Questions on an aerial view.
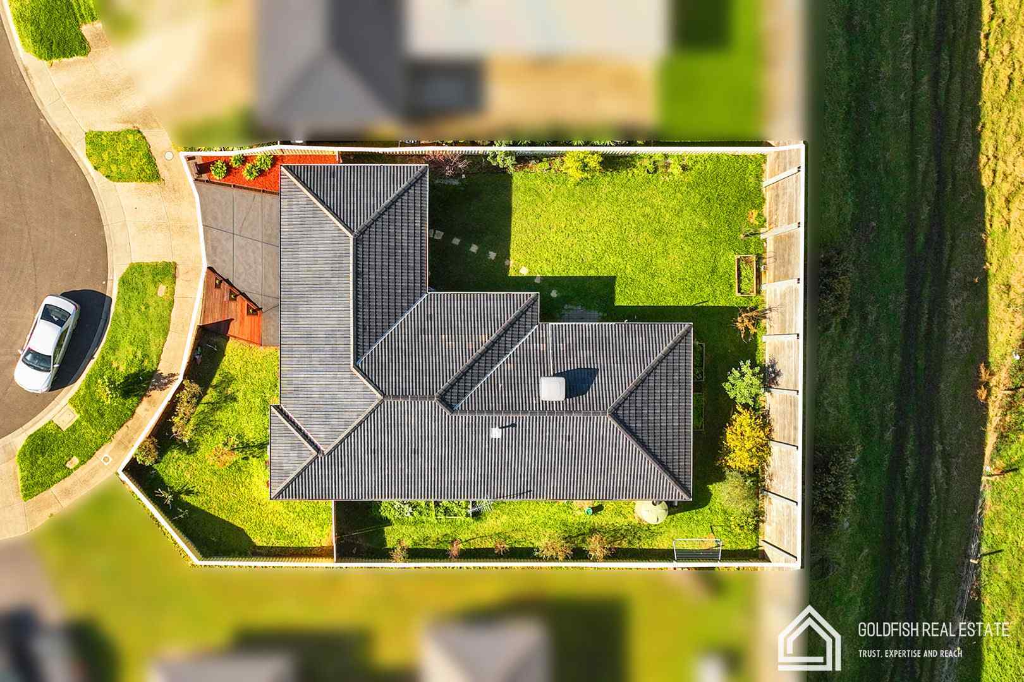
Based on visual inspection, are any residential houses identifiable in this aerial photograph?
Yes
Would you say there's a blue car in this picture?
No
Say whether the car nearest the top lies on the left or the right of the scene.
left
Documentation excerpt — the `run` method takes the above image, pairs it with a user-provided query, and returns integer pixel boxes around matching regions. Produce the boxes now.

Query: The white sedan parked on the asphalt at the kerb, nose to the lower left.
[19,295,80,395]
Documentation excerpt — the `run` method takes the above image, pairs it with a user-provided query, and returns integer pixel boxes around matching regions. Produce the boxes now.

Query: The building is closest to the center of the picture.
[267,161,695,503]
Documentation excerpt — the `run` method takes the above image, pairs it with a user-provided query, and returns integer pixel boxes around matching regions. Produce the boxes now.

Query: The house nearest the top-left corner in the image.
[254,0,406,125]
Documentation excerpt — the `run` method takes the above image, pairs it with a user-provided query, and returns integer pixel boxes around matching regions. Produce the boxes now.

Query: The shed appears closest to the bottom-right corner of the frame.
[694,654,734,682]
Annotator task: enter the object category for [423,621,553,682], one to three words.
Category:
house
